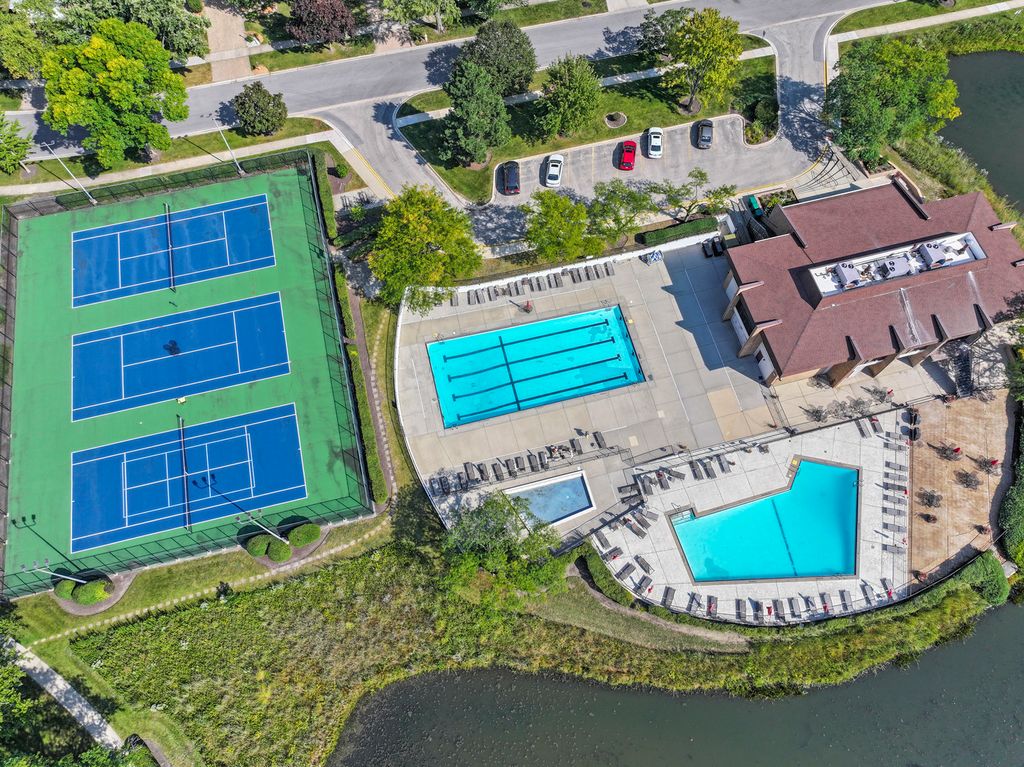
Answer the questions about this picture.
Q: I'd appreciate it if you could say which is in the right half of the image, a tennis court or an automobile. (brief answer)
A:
automobile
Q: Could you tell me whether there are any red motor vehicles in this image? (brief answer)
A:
Yes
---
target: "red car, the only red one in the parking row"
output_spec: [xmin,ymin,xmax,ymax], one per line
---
[619,140,638,171]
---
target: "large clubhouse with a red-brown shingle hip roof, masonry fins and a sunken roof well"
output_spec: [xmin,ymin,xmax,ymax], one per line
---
[722,176,1024,387]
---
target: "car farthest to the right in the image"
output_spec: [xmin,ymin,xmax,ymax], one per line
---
[696,118,715,150]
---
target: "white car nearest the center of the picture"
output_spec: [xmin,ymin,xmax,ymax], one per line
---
[546,155,564,187]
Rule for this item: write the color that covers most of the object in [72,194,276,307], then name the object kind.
blue tennis court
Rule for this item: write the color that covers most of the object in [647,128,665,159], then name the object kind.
white car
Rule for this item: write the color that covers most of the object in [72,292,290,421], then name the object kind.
blue tennis court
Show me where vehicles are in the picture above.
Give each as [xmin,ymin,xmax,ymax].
[619,140,638,171]
[647,128,665,159]
[546,155,564,187]
[696,118,715,150]
[503,162,521,194]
